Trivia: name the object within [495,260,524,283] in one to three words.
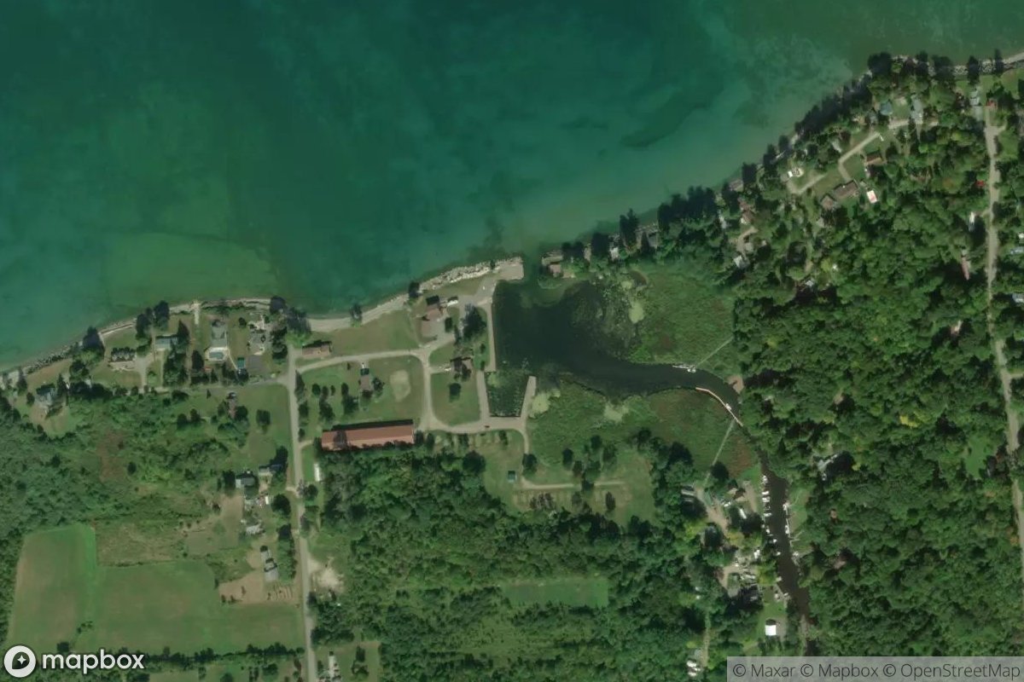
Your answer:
pier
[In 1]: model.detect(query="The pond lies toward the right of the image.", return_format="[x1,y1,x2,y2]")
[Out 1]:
[484,265,746,422]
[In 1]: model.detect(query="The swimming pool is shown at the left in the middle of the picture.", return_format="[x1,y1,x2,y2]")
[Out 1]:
[206,347,228,360]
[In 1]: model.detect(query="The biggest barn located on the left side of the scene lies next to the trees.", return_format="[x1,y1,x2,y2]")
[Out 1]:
[321,426,414,450]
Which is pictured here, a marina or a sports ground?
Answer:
marina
